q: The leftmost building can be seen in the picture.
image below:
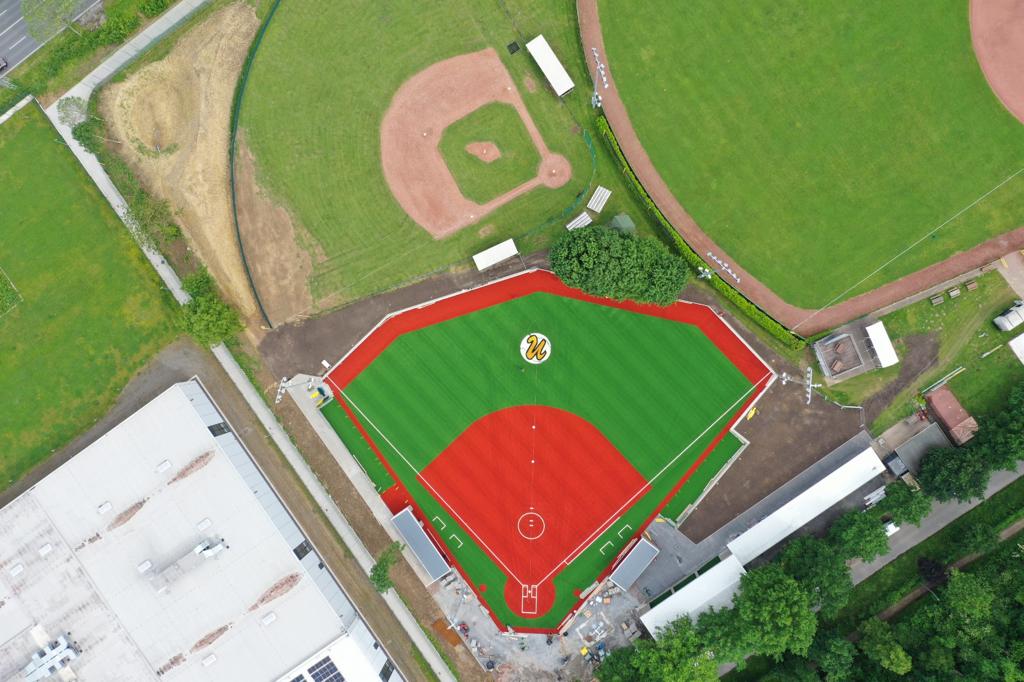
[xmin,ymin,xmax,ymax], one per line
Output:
[0,377,403,682]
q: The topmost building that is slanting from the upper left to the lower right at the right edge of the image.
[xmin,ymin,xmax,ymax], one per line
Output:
[919,387,978,445]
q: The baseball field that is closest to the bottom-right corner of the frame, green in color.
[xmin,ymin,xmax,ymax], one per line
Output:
[319,271,772,632]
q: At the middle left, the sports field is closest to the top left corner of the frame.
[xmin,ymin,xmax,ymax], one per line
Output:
[0,103,186,488]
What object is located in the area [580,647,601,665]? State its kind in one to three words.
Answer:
work vehicle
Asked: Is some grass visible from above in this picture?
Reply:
Yes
